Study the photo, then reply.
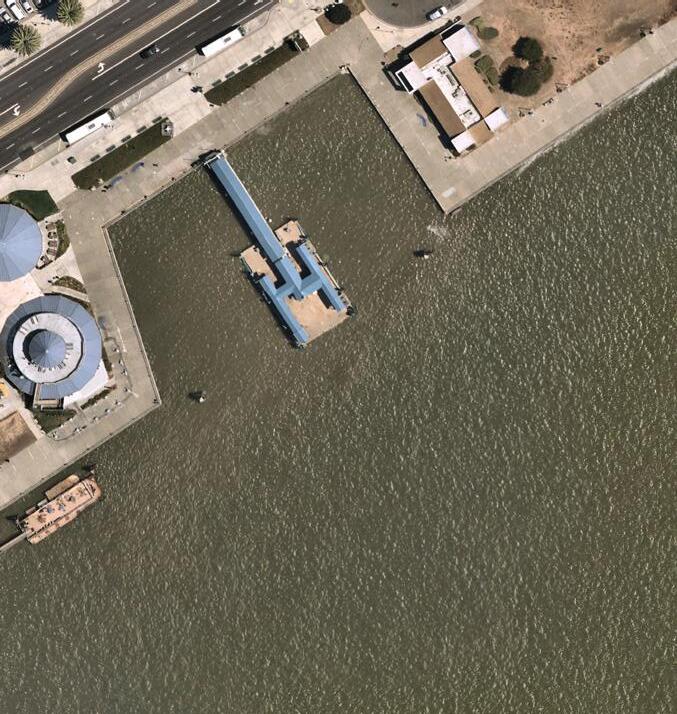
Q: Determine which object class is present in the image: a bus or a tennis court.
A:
bus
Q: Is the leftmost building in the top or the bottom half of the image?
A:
top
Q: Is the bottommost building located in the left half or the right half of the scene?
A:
left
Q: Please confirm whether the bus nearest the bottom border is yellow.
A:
No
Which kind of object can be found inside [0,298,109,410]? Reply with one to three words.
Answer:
building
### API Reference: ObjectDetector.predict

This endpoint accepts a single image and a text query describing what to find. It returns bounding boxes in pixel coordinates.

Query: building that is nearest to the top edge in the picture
[395,20,510,153]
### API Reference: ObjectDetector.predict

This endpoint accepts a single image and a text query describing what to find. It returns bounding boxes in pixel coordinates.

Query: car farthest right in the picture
[427,7,446,20]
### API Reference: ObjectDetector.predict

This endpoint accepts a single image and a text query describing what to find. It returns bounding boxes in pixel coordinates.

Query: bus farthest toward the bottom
[66,109,116,144]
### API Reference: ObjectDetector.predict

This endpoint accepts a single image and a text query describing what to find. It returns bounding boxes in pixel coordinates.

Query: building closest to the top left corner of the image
[0,203,43,281]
